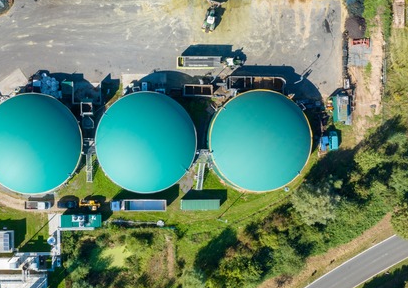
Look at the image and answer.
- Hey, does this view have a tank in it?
Yes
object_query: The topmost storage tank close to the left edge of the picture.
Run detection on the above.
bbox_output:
[0,91,84,196]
